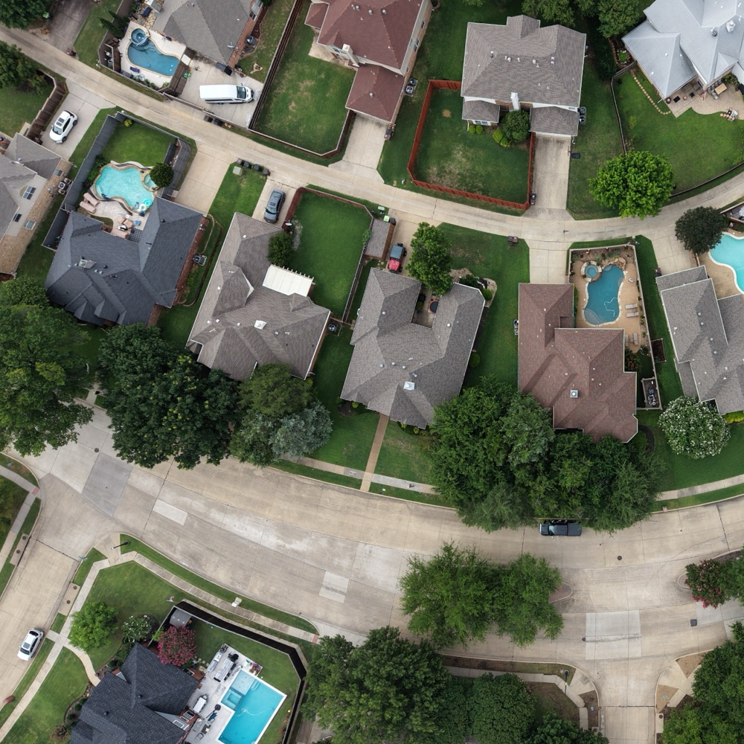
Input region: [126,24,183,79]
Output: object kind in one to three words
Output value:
swimming pool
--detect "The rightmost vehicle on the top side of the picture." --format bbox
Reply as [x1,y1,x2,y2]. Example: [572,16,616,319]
[388,242,407,273]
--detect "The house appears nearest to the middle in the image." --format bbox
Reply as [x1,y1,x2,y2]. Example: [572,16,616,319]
[338,267,487,429]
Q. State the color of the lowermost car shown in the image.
white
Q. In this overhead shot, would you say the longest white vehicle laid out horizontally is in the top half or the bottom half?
top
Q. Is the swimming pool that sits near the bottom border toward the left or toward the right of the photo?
left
